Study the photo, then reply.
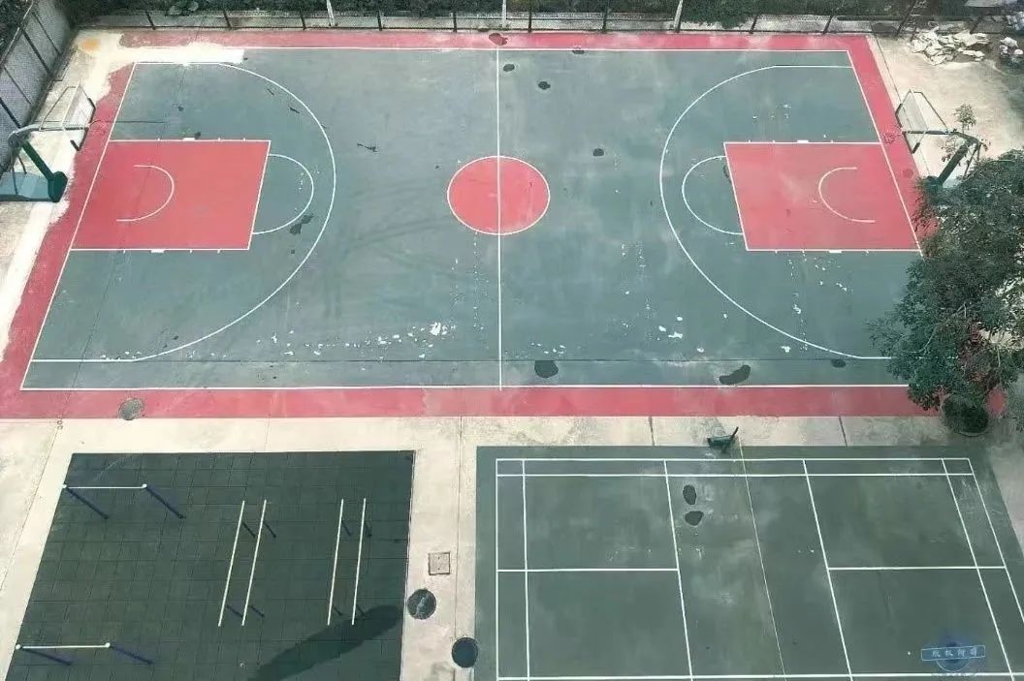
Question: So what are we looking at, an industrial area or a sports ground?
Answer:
sports ground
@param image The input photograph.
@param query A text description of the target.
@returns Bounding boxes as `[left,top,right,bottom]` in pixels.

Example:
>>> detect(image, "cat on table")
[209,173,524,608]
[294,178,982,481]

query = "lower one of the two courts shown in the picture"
[475,445,1024,681]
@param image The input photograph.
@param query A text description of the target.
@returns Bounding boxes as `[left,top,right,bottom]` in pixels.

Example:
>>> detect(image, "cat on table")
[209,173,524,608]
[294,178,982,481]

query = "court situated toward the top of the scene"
[0,32,1021,421]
